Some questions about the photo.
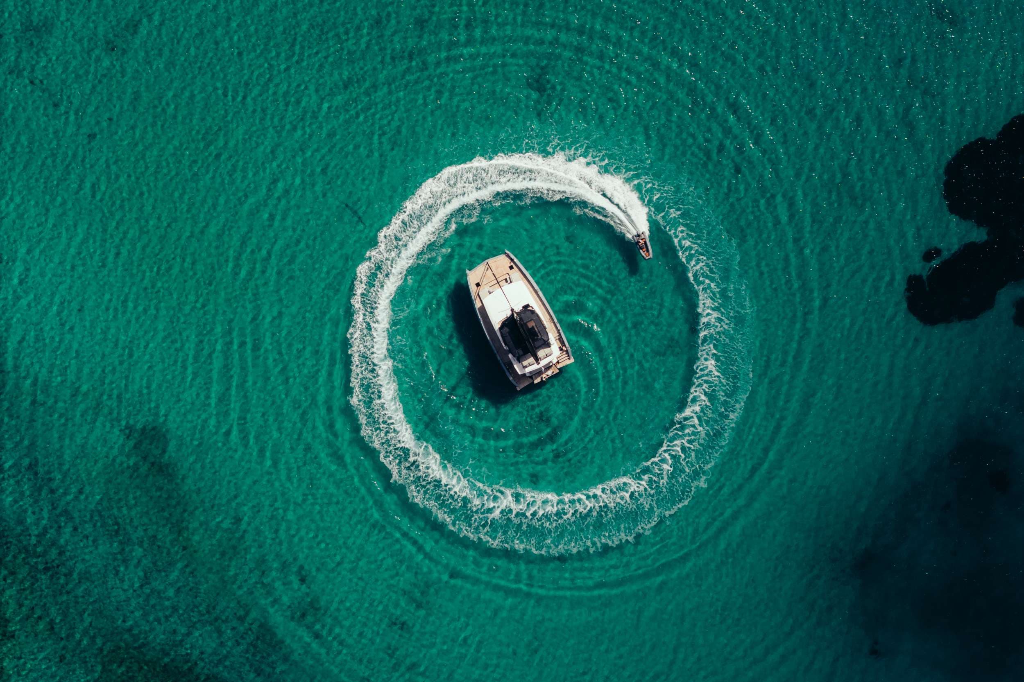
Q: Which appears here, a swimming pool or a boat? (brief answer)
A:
boat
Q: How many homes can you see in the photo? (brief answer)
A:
0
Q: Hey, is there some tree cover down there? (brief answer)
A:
No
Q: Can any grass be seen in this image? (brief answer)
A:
No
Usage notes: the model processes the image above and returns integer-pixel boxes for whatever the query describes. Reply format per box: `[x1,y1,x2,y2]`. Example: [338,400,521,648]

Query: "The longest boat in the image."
[466,249,574,389]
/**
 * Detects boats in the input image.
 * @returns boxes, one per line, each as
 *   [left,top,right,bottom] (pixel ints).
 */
[466,249,574,389]
[633,231,653,260]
